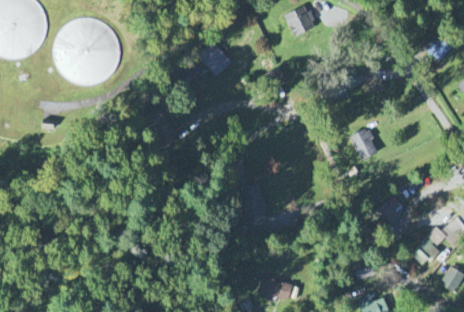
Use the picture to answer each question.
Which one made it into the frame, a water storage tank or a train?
water storage tank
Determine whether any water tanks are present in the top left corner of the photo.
Yes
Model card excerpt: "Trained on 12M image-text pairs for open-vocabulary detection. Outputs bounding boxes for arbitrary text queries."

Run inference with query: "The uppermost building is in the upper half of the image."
[285,6,316,37]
